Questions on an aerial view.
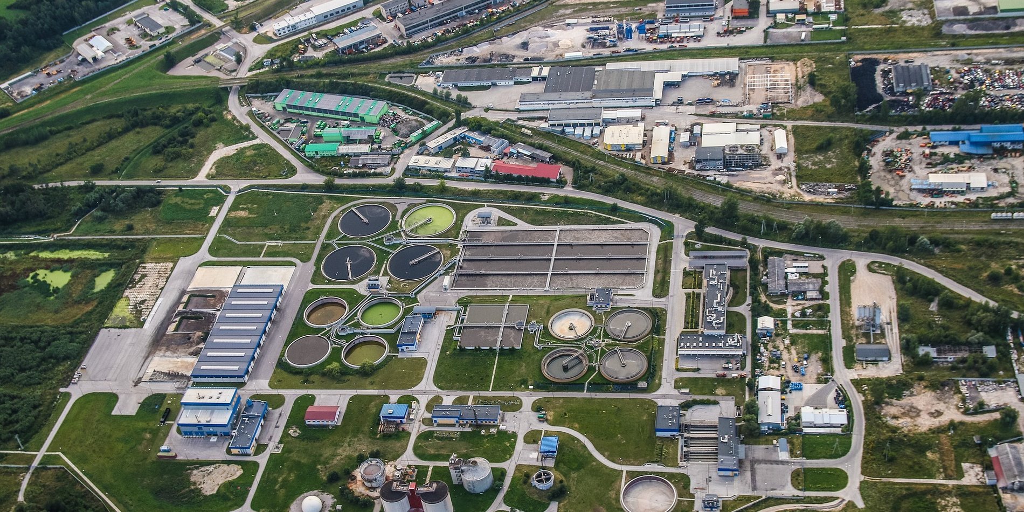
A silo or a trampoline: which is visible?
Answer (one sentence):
Visible in the photo is a silo.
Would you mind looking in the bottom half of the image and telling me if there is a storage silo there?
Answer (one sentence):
Yes, a storage silo shows up in the bottom half of the image.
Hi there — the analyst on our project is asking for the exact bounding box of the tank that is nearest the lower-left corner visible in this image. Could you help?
[285,335,331,368]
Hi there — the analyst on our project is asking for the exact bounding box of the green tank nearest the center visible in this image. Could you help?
[402,203,456,236]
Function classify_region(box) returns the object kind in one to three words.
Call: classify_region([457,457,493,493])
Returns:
silo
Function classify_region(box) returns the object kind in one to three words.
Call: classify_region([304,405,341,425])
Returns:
building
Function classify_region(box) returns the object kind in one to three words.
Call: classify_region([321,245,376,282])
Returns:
storage tank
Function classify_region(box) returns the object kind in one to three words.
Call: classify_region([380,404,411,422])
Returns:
house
